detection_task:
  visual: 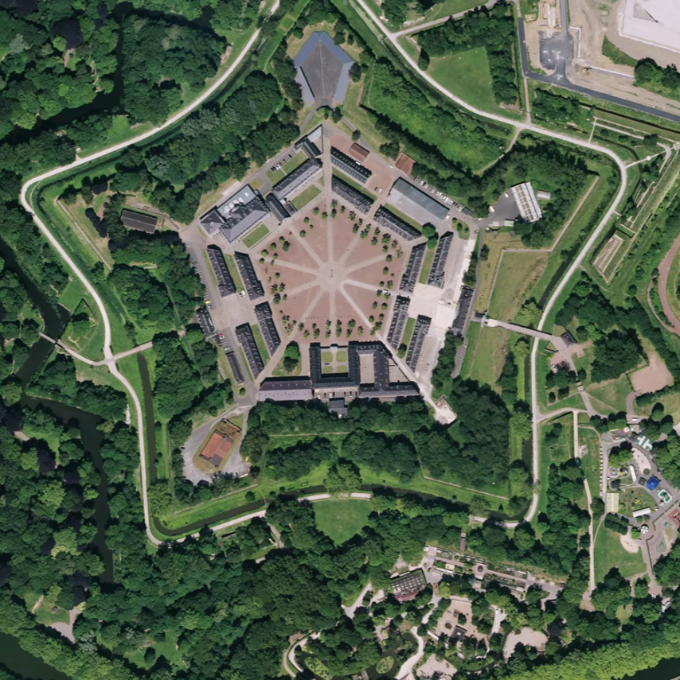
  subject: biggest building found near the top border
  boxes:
[294,30,354,106]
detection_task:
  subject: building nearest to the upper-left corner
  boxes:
[119,208,159,232]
